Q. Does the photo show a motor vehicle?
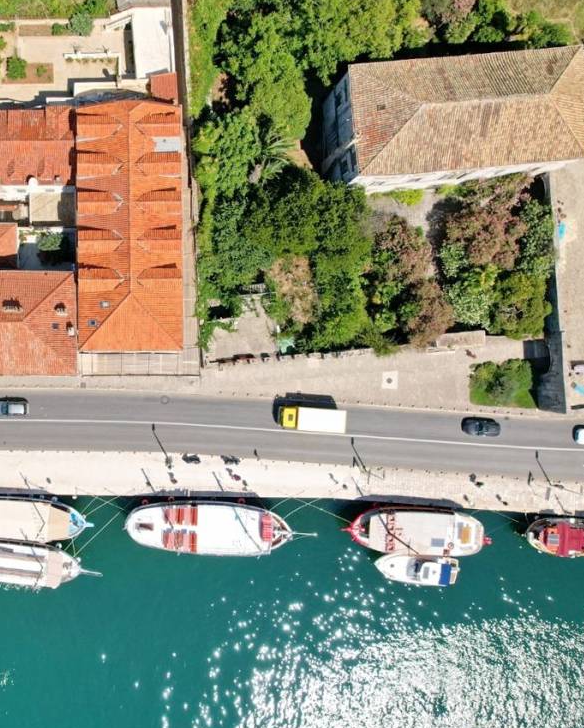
Yes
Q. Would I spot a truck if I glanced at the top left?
No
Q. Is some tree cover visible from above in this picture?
Yes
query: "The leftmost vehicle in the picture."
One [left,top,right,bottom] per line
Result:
[0,398,29,417]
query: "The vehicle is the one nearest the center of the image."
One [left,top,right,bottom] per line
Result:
[277,405,348,433]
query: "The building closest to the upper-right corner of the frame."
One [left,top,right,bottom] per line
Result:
[326,44,584,194]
